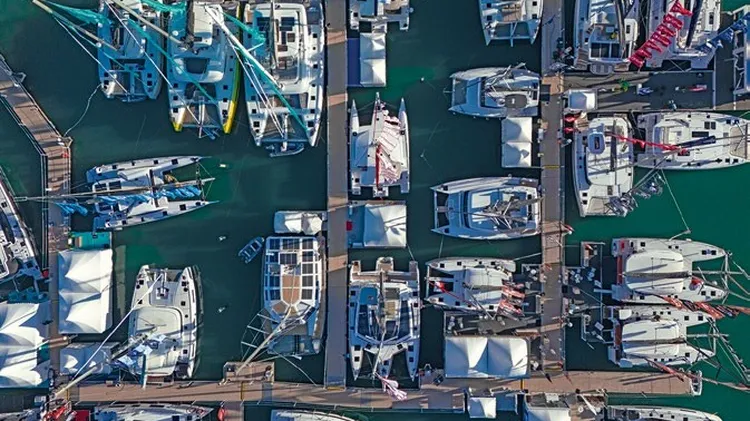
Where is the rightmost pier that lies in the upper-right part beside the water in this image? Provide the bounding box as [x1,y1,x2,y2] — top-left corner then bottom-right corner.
[562,40,736,113]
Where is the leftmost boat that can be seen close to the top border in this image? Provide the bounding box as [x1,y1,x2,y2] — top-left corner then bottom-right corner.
[21,0,168,102]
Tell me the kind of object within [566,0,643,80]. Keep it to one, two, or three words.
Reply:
boat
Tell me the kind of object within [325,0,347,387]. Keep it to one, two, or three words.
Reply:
pier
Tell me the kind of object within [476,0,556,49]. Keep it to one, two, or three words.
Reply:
boat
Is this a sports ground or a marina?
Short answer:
marina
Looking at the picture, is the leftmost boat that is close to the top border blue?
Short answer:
Yes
